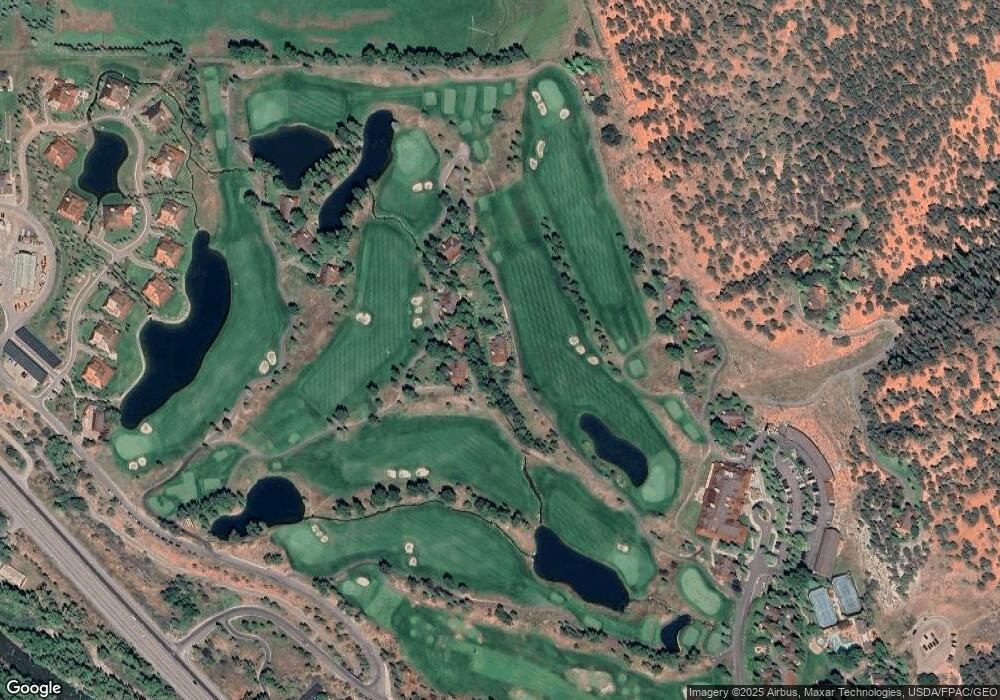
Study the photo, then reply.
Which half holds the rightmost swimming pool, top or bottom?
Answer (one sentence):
Seen from above, the rightmost swimming pool lies in the bottom half of the view.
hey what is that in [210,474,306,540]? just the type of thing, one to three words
pond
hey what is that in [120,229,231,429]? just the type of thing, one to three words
pond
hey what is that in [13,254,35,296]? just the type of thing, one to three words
building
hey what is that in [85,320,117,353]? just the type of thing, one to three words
house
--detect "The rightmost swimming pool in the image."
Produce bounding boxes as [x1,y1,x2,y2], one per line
[809,620,863,655]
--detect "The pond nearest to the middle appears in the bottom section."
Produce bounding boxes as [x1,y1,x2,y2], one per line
[580,413,648,487]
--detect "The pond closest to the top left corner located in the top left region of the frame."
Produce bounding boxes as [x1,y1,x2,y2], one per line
[79,128,128,194]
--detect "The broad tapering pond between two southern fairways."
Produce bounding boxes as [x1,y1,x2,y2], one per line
[533,526,629,611]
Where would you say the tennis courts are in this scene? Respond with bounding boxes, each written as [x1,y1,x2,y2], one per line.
[810,587,839,629]
[832,574,862,616]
